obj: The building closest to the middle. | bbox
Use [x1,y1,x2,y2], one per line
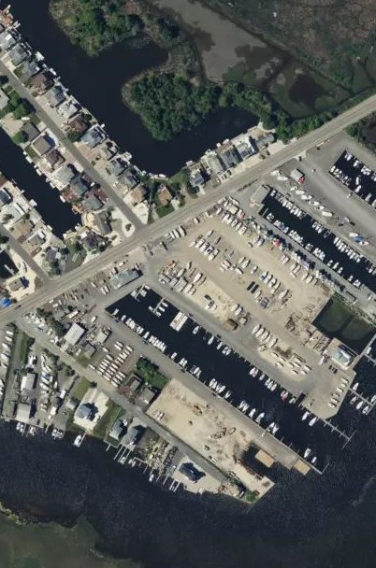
[107,266,140,292]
